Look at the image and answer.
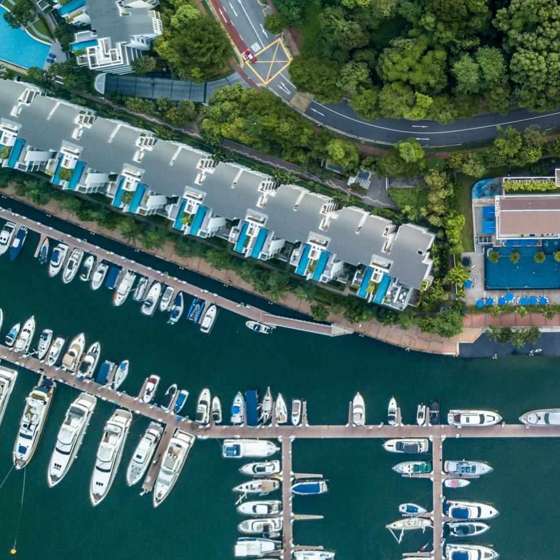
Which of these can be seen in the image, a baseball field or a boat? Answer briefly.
boat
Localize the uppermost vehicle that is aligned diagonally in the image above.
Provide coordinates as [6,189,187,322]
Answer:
[238,48,256,61]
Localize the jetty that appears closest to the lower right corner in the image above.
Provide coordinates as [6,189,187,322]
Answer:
[402,438,499,560]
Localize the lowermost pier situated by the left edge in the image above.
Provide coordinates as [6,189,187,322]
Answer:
[0,345,203,492]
